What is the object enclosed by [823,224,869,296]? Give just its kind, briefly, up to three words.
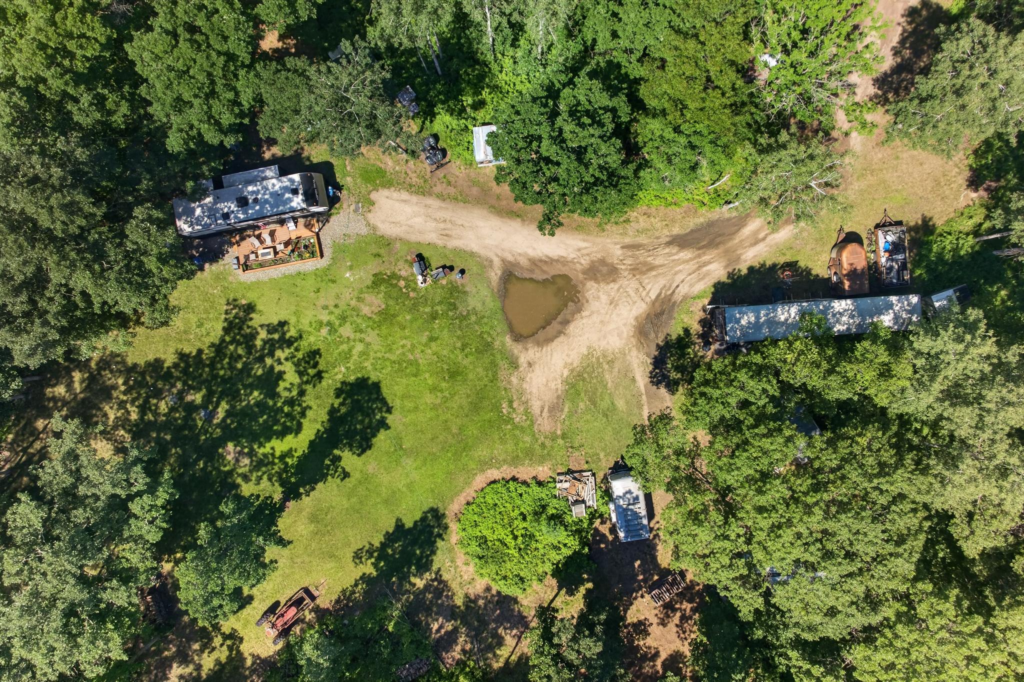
trailer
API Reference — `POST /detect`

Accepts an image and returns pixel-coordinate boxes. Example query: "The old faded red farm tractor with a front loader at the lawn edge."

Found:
[254,578,328,648]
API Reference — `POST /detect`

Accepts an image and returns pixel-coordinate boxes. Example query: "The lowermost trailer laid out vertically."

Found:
[606,457,649,541]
